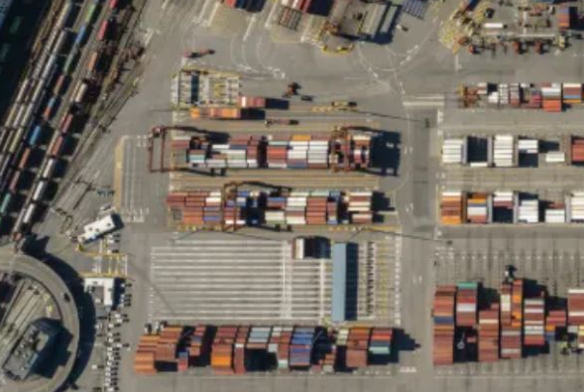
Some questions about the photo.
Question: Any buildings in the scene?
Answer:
Yes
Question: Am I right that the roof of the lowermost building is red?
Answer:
No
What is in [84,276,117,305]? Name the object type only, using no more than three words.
building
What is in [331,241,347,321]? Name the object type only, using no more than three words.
building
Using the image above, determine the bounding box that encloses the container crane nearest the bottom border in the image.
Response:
[221,178,251,229]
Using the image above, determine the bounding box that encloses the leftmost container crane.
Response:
[147,123,179,172]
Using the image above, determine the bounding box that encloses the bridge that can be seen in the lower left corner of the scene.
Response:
[0,252,81,392]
